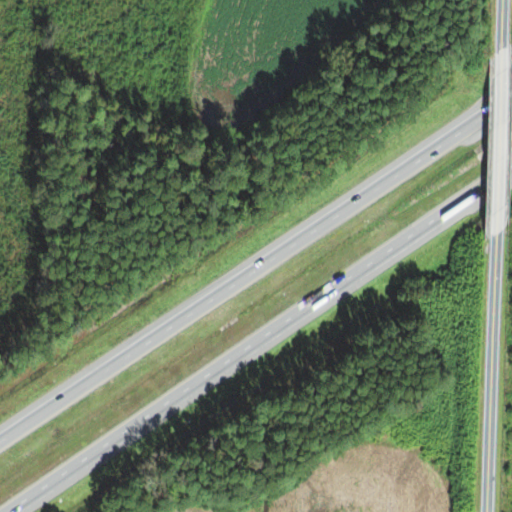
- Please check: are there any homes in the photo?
No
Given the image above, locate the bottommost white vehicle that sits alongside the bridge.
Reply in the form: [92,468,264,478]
[441,194,480,222]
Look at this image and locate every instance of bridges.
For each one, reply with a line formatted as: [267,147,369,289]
[484,44,512,242]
